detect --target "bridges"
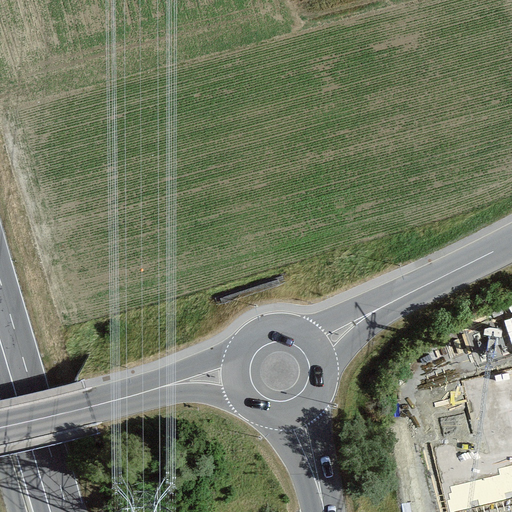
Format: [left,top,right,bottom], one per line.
[0,354,102,456]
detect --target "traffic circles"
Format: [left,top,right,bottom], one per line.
[222,314,338,430]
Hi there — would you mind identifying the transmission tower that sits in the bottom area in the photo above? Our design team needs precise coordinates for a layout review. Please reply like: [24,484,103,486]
[114,468,173,512]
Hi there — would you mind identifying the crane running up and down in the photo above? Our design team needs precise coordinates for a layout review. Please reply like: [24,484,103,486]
[468,328,498,512]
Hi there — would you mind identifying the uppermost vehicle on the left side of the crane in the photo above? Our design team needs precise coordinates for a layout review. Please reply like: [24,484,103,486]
[271,332,294,347]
